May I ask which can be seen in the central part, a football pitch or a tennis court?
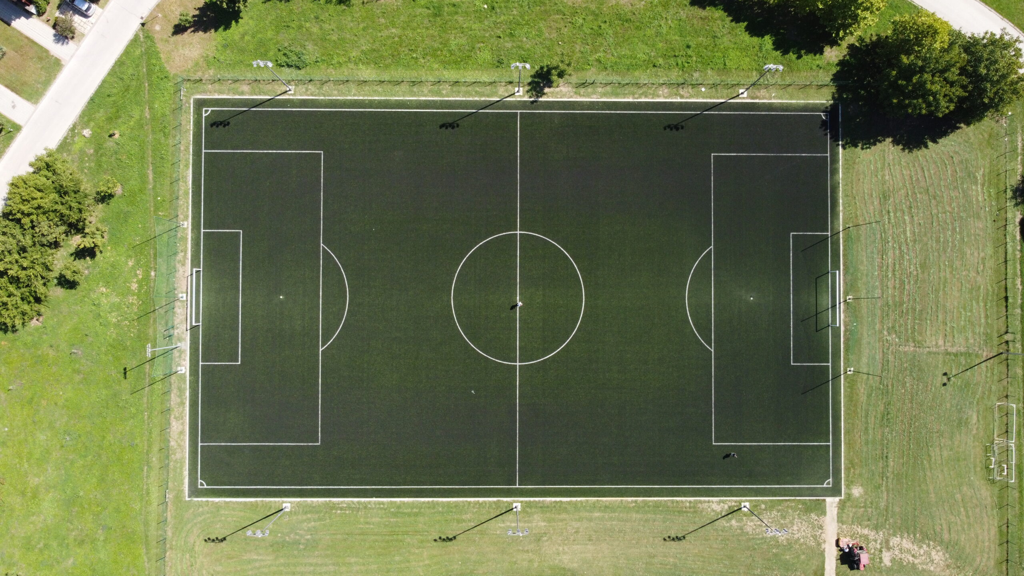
football pitch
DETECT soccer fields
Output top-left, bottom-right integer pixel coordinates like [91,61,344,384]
[187,97,843,500]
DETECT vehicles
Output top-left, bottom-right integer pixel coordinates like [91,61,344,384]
[64,0,97,17]
[837,536,872,567]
